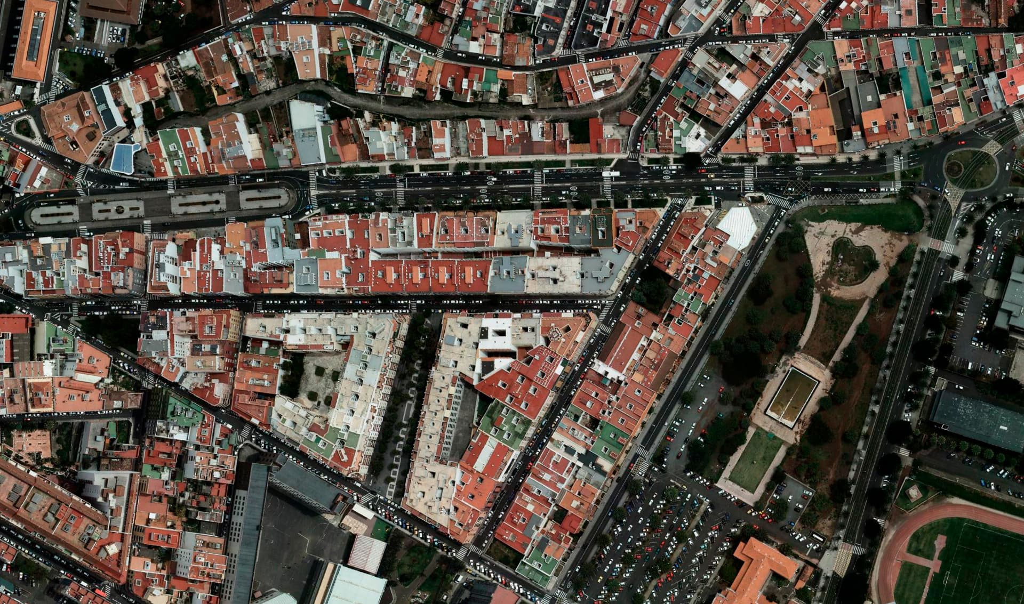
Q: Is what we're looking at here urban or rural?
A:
urban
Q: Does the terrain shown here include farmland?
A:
No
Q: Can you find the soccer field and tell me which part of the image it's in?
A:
bottom right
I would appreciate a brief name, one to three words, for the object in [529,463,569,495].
house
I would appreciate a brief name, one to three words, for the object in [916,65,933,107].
house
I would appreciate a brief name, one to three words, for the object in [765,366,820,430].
pond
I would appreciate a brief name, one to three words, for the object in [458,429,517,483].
building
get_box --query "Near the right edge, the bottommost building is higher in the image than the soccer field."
[930,390,1024,456]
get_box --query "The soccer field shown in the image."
[892,517,1024,604]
